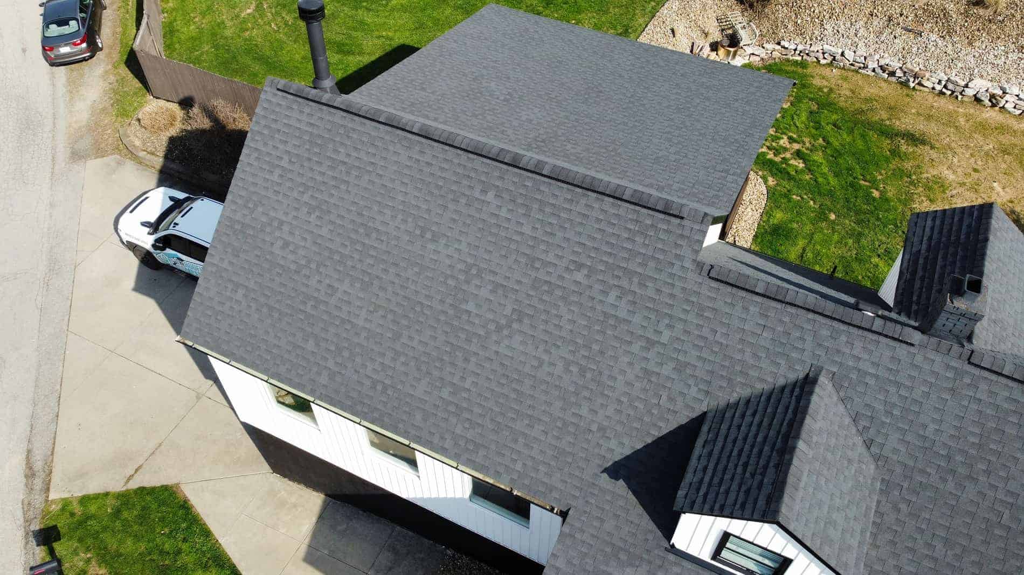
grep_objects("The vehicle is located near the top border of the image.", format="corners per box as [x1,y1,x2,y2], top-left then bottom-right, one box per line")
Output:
[43,0,107,64]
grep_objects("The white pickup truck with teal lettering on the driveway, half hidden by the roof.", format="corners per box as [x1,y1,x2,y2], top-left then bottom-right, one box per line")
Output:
[115,188,226,275]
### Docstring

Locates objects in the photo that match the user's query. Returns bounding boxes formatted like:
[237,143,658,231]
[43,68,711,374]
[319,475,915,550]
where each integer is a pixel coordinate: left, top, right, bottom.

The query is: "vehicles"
[43,0,107,64]
[115,188,226,275]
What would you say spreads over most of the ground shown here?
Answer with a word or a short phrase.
buildings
